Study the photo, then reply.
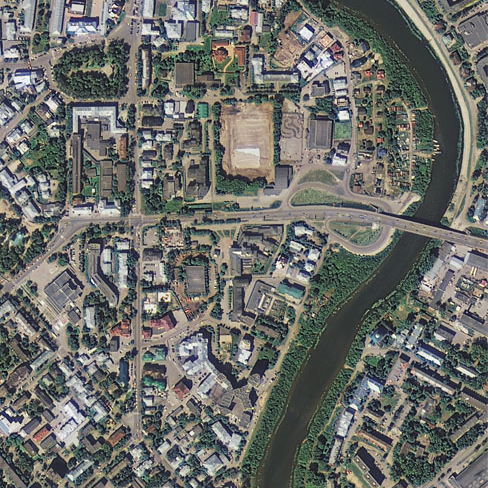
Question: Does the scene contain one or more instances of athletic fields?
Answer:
Yes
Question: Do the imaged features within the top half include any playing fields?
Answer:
Yes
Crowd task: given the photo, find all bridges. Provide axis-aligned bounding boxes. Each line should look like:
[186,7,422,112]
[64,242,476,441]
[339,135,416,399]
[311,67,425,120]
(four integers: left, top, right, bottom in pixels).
[308,207,488,251]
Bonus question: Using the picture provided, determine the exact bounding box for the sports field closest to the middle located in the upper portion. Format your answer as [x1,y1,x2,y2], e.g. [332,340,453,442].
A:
[221,102,274,182]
